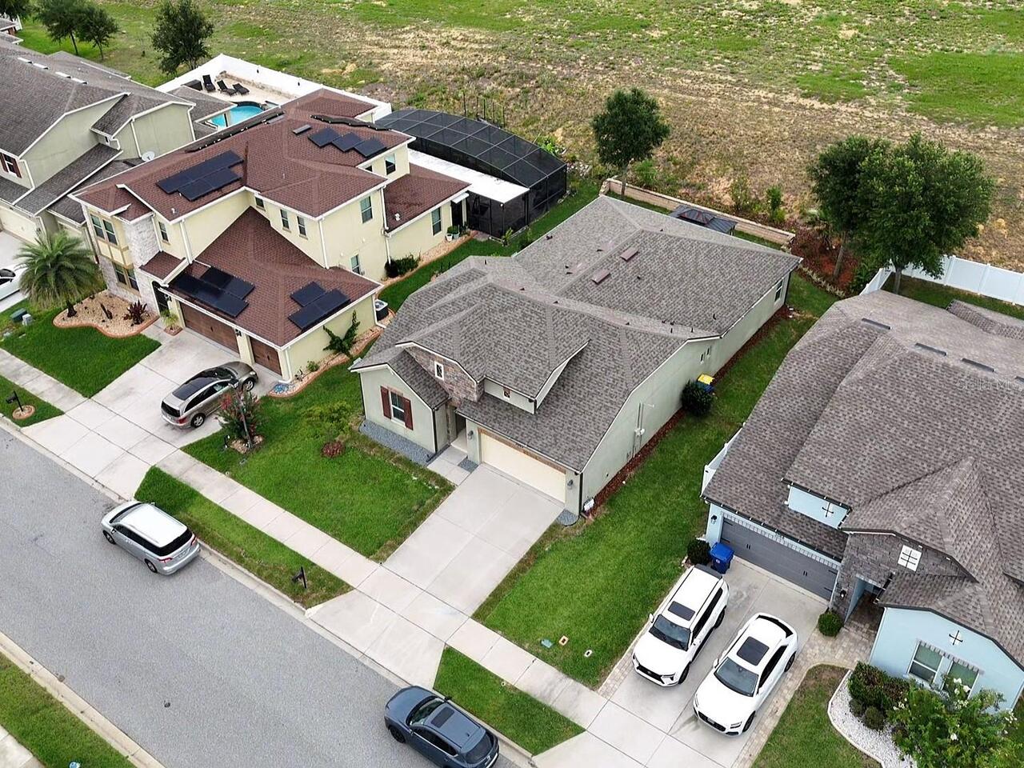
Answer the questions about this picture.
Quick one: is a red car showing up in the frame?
No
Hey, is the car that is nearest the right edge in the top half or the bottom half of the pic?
bottom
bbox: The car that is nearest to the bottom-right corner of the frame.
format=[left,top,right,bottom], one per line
[692,615,796,739]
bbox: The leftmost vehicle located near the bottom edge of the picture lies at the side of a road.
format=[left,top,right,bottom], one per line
[384,683,509,768]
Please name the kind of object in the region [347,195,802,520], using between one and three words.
house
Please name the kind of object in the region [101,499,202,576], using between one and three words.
car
